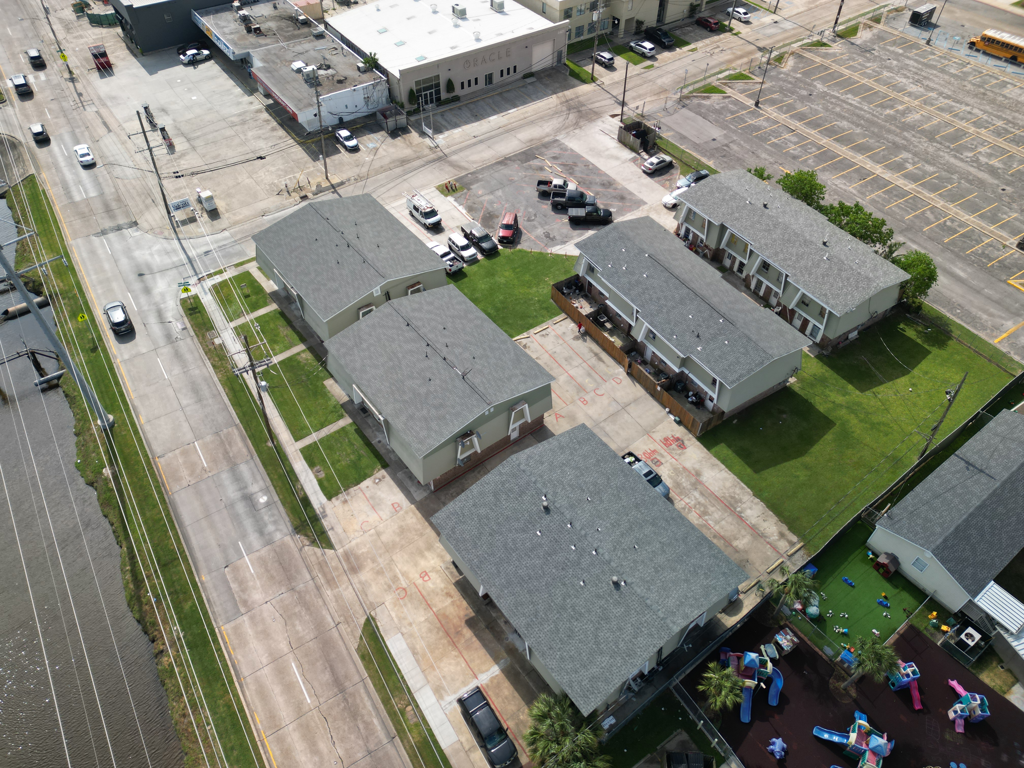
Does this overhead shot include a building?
Yes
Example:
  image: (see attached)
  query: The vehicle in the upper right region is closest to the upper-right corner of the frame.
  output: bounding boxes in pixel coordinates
[969,33,1024,69]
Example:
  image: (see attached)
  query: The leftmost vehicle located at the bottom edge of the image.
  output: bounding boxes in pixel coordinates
[454,679,514,768]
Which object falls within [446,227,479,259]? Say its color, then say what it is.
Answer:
white car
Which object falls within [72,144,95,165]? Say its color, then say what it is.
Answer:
white car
